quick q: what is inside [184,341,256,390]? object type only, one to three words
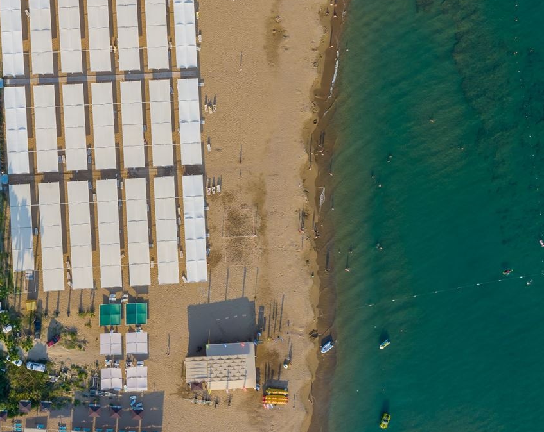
shed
